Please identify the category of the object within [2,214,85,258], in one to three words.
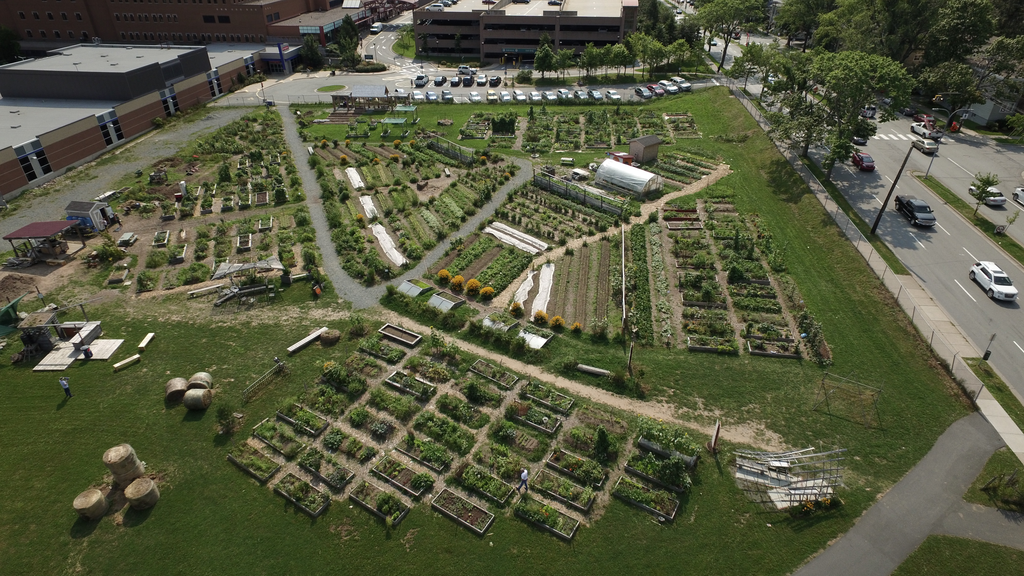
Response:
building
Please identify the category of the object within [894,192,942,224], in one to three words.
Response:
truck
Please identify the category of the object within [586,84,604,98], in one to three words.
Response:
car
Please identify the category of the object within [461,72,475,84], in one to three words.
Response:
vehicle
